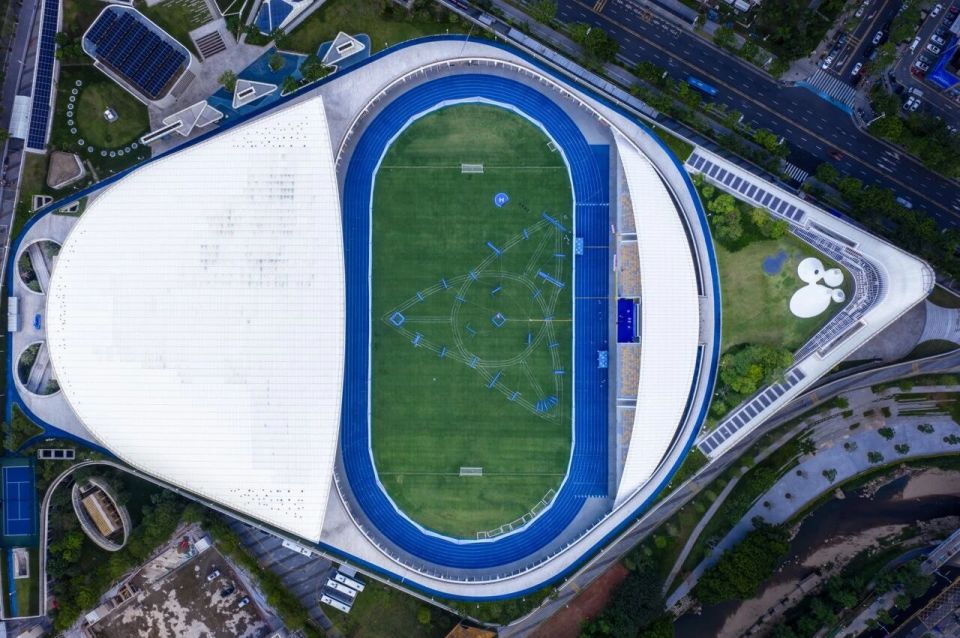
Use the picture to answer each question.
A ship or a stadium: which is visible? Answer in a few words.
stadium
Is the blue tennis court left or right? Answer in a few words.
left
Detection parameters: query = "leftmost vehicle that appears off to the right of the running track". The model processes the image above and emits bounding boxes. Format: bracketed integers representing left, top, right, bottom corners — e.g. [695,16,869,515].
[684,76,719,100]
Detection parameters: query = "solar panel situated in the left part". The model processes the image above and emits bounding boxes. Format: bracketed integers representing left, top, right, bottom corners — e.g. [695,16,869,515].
[27,0,58,149]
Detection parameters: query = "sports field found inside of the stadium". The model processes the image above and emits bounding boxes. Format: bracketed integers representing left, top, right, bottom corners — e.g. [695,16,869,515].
[368,96,576,543]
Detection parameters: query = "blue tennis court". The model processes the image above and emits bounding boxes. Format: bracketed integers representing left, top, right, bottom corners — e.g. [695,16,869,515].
[0,457,40,550]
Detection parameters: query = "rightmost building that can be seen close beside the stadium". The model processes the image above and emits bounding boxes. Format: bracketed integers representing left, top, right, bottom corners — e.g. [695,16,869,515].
[682,146,938,460]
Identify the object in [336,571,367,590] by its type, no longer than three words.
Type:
vehicle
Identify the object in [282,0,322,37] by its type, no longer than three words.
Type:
building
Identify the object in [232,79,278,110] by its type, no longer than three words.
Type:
building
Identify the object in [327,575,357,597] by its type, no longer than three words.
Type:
bus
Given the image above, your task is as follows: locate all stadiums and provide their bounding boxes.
[5,33,724,603]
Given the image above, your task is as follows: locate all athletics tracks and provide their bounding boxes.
[345,75,609,568]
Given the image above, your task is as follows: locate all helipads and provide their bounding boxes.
[494,192,509,207]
